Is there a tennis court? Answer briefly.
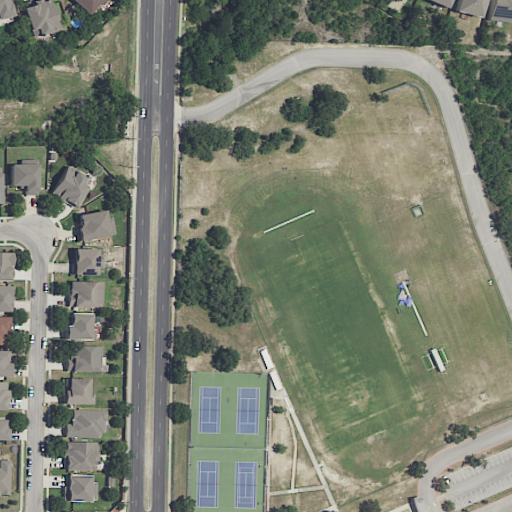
Yes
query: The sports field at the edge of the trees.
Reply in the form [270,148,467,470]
[233,182,411,454]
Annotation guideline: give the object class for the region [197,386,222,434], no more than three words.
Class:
tennis court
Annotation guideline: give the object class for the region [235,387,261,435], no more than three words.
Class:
tennis court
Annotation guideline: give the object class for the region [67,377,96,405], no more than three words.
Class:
house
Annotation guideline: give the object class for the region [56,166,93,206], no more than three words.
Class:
house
